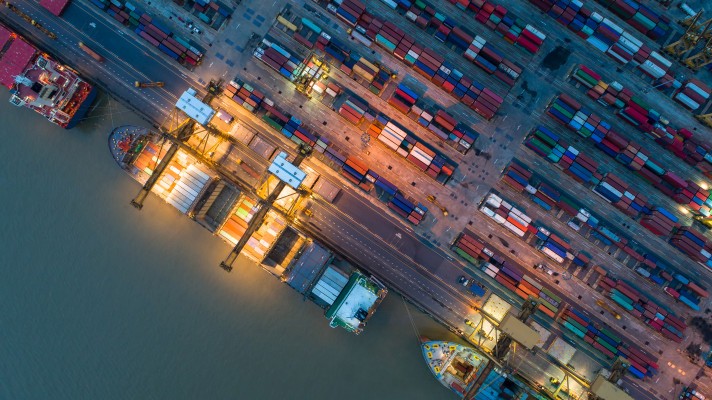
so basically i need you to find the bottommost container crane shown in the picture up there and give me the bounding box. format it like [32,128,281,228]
[534,353,634,400]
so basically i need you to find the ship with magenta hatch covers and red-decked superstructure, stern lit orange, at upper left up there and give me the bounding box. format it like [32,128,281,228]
[0,20,104,127]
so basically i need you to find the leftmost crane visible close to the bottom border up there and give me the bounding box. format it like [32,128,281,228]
[458,292,544,400]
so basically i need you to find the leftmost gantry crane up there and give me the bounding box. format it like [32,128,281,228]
[127,77,236,210]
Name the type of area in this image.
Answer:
port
